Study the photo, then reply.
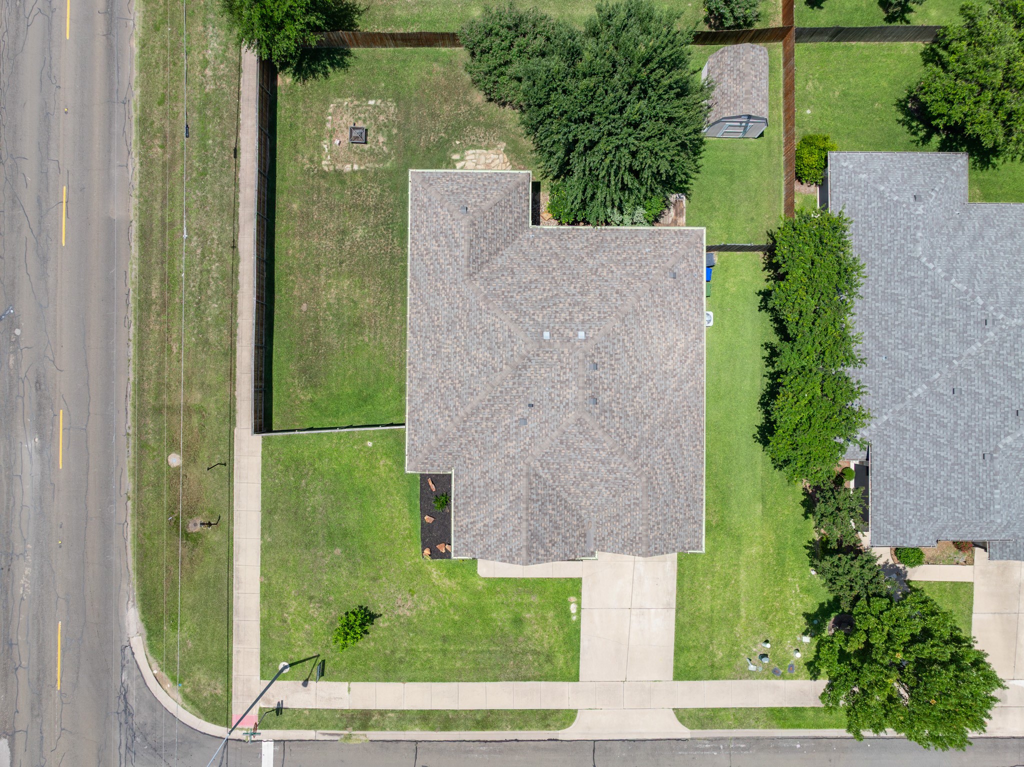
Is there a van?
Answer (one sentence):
No, the scene contains no van.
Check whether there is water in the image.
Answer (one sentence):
No, there's no water in this view.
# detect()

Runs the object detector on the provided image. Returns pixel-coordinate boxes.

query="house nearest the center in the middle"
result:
[406,167,708,566]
